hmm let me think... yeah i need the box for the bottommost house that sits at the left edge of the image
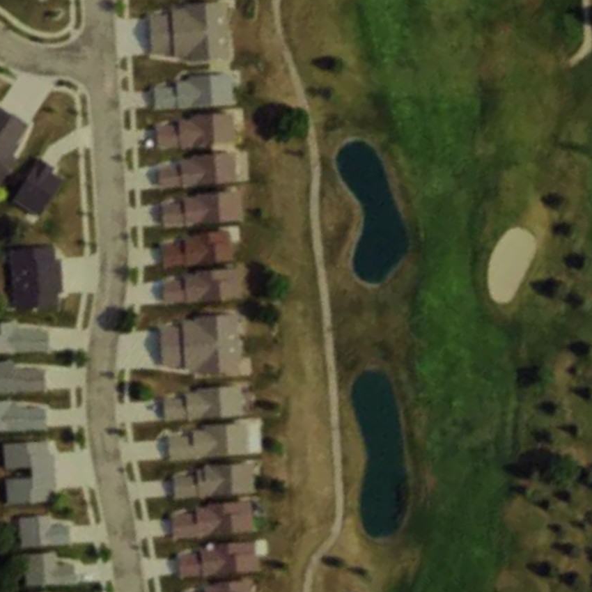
[24,555,77,588]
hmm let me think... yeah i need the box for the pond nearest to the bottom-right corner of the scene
[354,370,408,536]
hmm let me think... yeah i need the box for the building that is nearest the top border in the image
[151,0,237,71]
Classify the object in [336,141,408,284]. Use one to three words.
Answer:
pond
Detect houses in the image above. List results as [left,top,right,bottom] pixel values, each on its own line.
[151,0,237,71]
[7,244,63,309]
[178,539,269,581]
[161,226,240,271]
[17,517,69,548]
[172,461,261,502]
[24,555,77,588]
[0,110,28,192]
[160,311,252,377]
[168,419,262,461]
[153,71,242,112]
[157,151,250,190]
[0,400,46,433]
[172,503,254,541]
[163,386,255,423]
[3,441,54,504]
[162,193,244,230]
[12,160,61,217]
[155,109,246,152]
[162,270,247,307]
[0,324,48,355]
